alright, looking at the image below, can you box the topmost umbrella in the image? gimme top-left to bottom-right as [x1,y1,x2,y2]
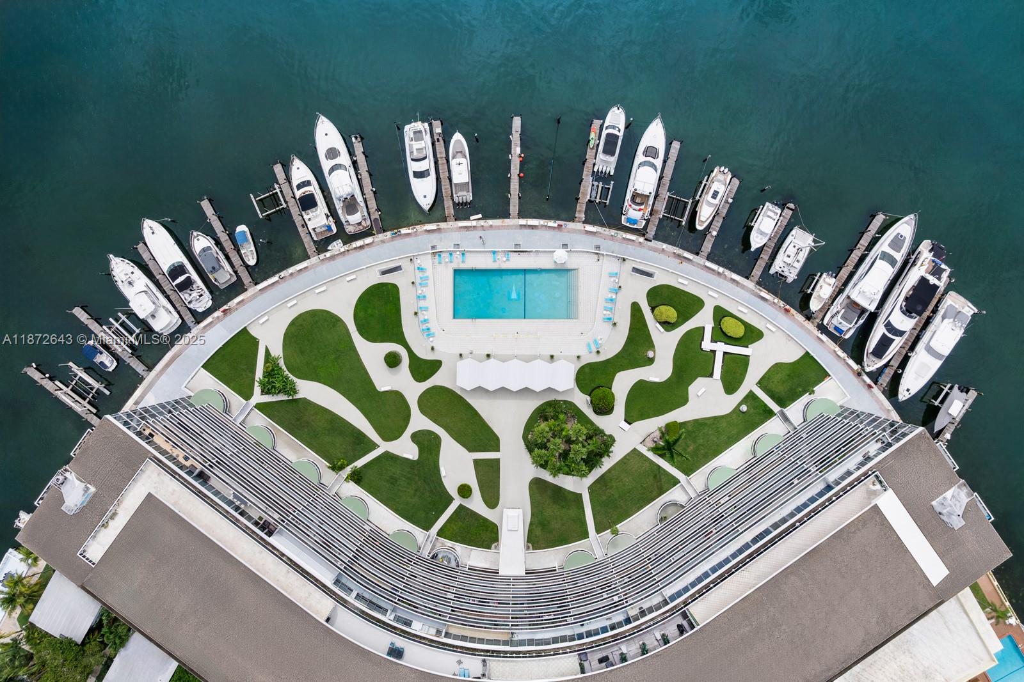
[554,249,567,263]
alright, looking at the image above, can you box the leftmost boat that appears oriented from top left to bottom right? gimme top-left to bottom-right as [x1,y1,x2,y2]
[80,342,117,371]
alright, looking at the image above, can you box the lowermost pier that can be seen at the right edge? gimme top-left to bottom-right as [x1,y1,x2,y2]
[933,389,984,446]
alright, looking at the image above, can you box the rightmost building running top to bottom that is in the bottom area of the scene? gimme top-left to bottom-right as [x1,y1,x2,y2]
[499,508,526,574]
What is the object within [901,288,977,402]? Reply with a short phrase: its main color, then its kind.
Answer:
white boat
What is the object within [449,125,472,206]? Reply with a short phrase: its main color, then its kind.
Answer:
white boat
